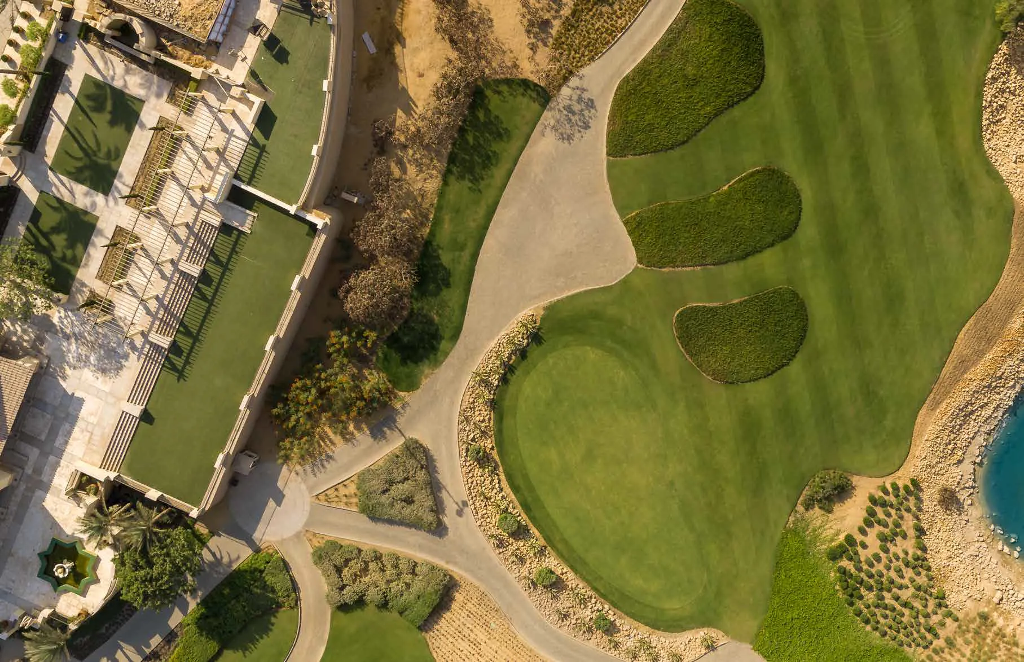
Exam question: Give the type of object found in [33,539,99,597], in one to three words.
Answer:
fountain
